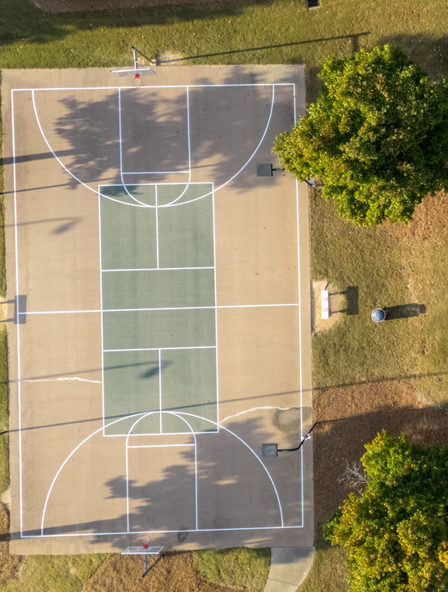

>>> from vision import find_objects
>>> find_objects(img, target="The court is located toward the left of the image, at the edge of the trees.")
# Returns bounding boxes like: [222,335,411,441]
[1,65,314,554]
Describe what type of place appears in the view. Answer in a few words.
sports ground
